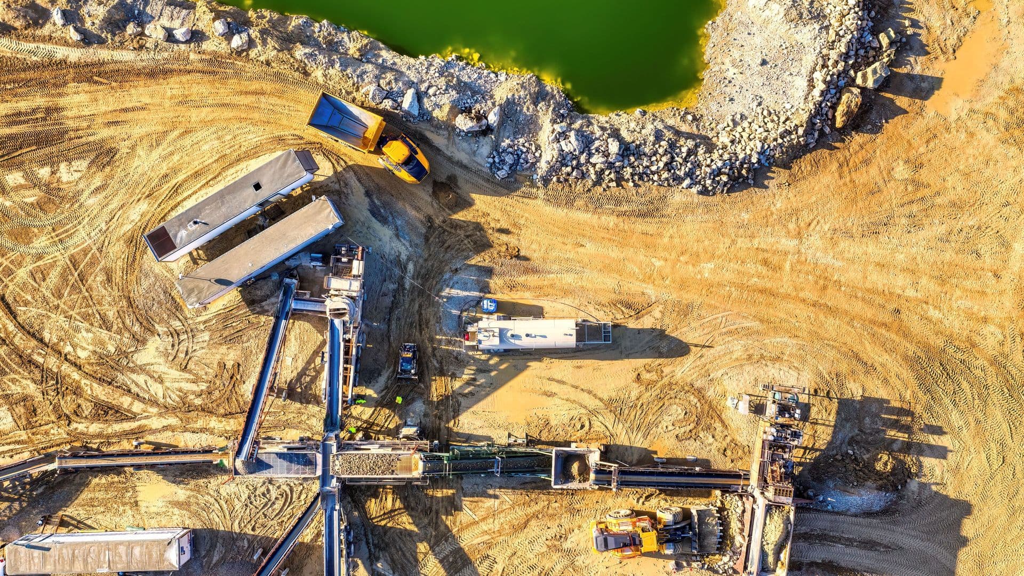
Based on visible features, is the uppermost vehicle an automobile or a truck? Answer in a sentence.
I'd identify the uppermost vehicle as a truck.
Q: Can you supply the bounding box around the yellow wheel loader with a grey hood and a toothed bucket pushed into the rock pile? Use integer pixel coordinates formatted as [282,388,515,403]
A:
[588,501,725,558]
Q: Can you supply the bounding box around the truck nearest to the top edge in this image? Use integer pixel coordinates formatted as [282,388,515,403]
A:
[305,88,428,184]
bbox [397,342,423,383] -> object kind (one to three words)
work vehicle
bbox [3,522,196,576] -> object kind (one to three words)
trailer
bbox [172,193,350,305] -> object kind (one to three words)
trailer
